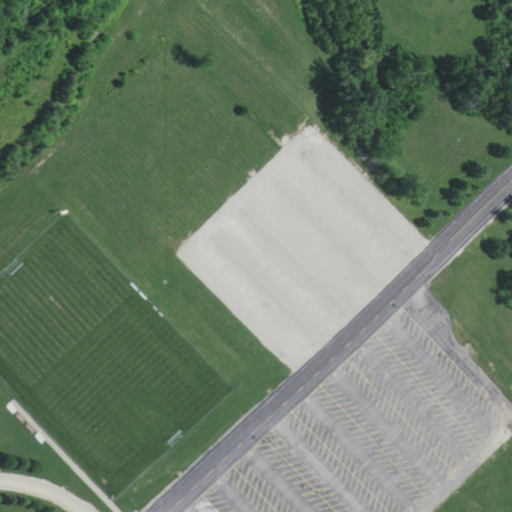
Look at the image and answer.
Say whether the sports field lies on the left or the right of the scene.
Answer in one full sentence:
The sports field appears in the left half of the scene.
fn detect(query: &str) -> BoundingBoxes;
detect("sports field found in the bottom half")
[0,214,232,498]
